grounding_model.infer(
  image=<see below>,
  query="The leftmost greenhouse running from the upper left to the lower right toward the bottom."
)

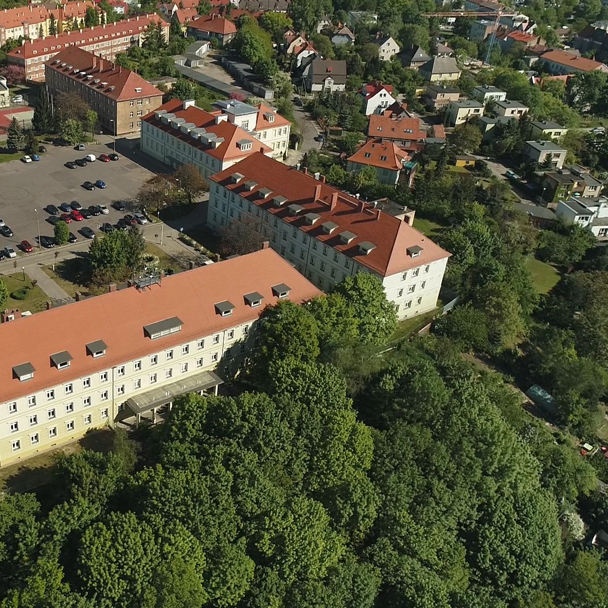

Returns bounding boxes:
[518,380,564,415]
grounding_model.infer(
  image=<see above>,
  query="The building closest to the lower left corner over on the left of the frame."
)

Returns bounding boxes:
[0,242,326,464]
